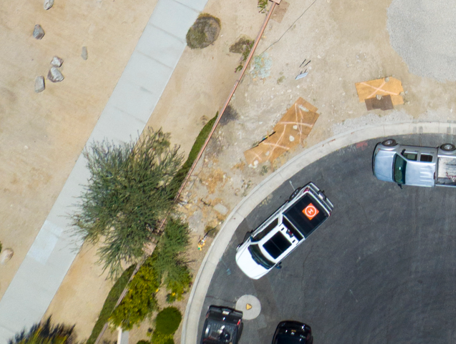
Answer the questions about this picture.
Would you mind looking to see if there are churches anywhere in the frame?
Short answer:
No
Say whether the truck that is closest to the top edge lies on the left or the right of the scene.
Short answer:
right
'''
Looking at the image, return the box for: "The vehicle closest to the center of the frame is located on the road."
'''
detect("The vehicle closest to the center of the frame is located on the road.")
[243,179,337,272]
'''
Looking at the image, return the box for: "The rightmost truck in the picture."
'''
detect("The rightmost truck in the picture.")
[370,138,456,191]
